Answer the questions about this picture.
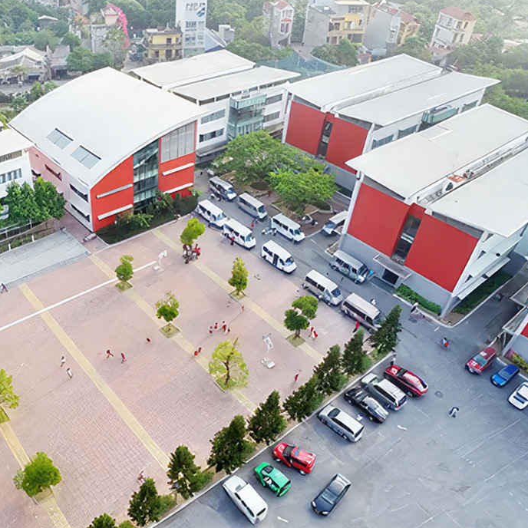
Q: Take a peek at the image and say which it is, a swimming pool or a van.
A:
van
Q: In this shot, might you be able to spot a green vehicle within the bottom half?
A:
Yes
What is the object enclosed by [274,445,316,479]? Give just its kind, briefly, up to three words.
car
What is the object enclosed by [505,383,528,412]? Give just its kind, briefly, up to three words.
car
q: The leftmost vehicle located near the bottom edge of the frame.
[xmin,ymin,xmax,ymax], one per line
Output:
[227,475,269,526]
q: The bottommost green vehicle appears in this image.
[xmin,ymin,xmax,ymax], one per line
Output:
[252,464,289,497]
